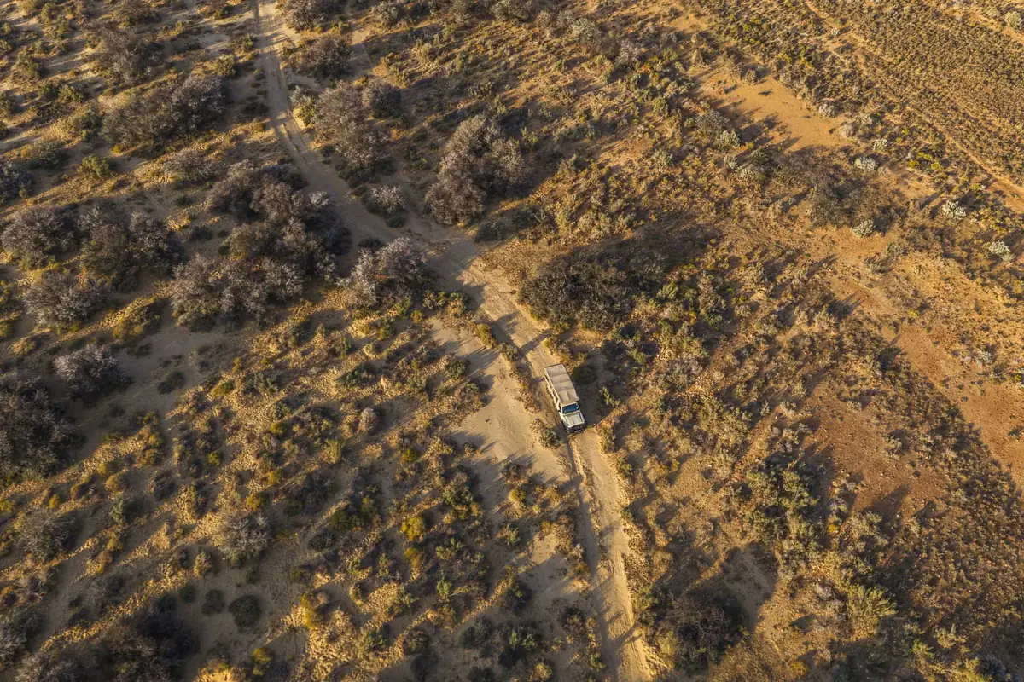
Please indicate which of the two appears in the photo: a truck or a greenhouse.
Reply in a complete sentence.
Visible in the photo is a truck.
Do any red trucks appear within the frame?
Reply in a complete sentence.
No, the scene contains no red truck.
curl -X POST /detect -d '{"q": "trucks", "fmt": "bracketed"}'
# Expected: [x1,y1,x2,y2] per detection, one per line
[545,363,586,431]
